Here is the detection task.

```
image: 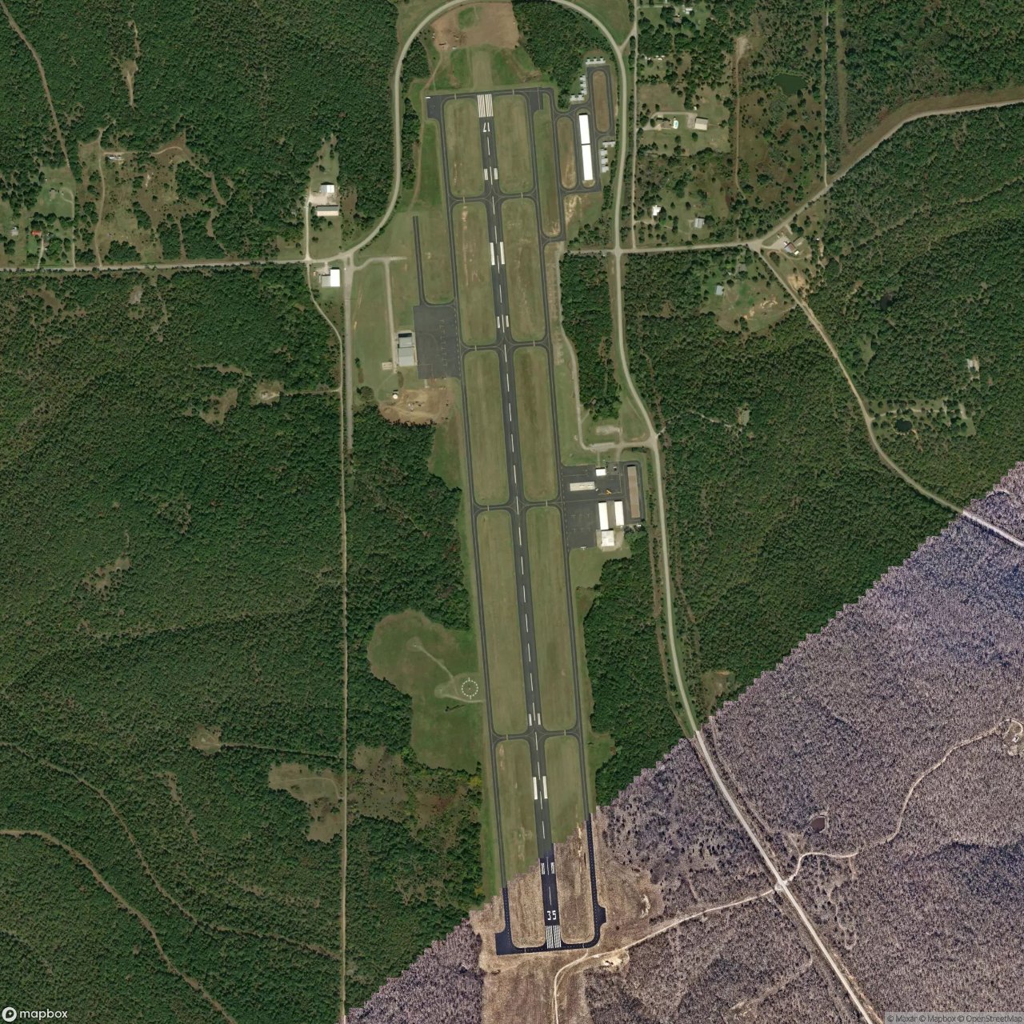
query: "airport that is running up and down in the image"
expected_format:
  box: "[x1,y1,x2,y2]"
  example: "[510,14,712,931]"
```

[382,66,646,955]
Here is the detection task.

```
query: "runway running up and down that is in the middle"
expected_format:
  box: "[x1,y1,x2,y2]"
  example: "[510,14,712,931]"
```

[477,91,562,949]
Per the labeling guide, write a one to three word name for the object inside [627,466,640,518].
hangar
